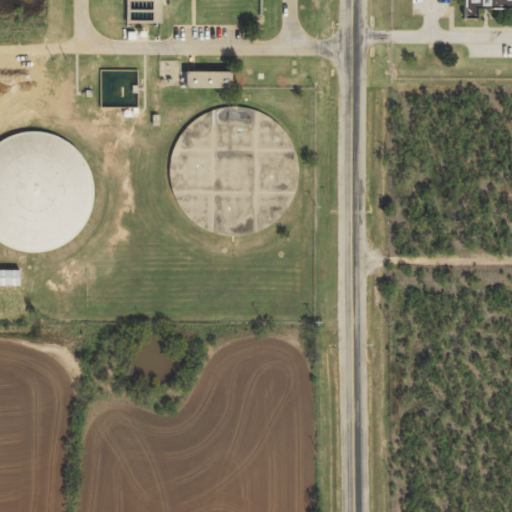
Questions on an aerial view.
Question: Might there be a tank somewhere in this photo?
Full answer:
Yes, a tank can be made out from above.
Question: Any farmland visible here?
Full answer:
Yes, farmland shows up in the scene.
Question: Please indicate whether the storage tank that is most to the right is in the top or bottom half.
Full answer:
The storage tank that is most to the right sits in the top half of the picture.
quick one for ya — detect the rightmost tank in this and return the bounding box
[170,106,300,240]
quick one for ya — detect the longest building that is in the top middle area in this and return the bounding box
[186,68,234,88]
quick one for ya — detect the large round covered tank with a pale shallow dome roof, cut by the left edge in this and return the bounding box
[0,130,96,250]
